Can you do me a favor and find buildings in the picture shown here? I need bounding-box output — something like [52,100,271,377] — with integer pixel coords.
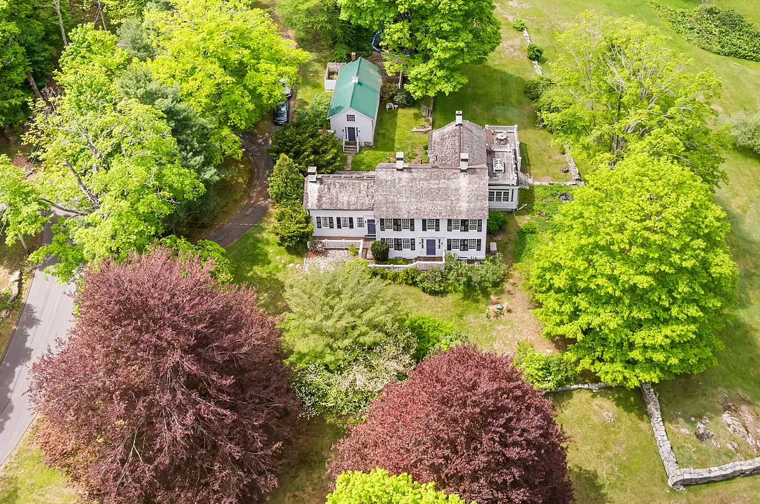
[304,104,543,267]
[327,50,382,153]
